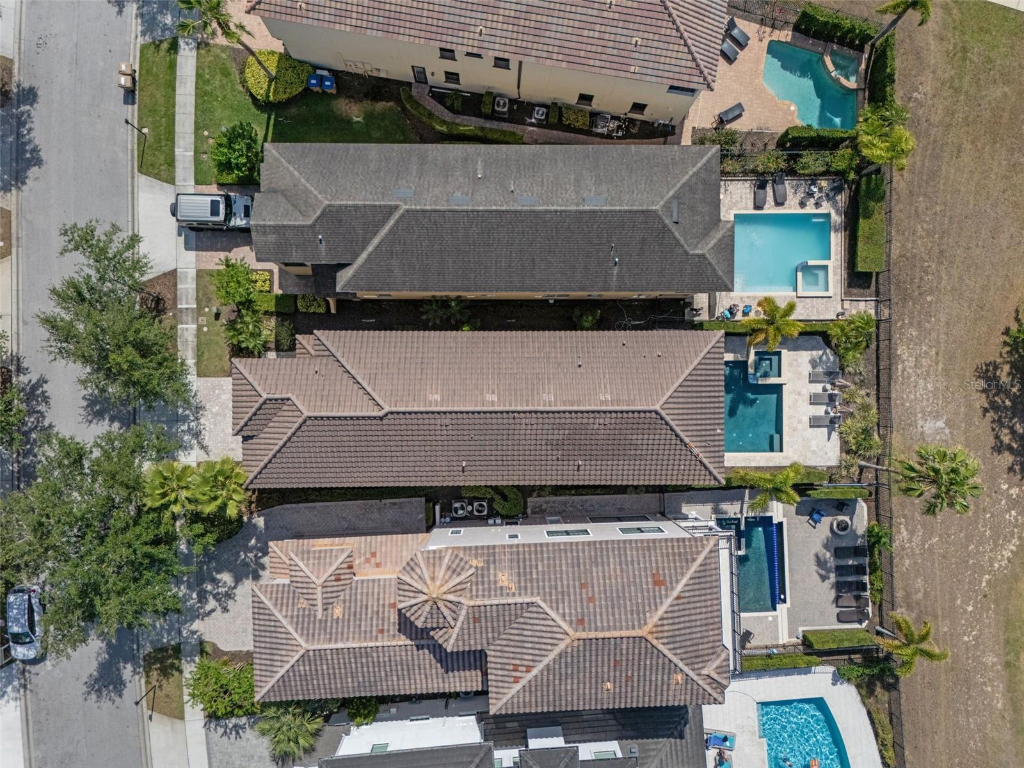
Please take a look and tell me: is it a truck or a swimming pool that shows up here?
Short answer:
swimming pool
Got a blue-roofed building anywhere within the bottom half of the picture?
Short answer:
No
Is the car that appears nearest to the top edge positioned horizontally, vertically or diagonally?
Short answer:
horizontally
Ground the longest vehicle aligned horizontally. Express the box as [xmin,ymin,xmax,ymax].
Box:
[173,194,254,230]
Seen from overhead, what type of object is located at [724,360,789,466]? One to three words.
swimming pool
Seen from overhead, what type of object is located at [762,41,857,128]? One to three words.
swimming pool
